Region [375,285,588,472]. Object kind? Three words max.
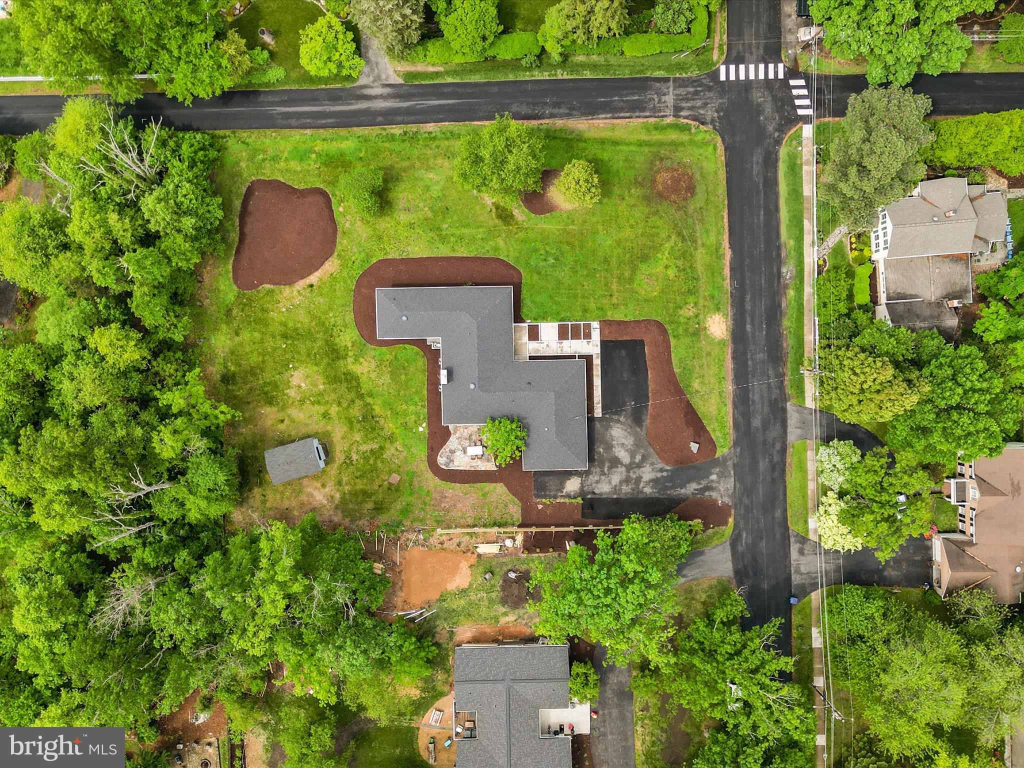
house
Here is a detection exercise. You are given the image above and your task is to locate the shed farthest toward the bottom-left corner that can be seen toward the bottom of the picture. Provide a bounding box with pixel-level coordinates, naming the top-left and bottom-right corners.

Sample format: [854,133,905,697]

[264,440,331,484]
